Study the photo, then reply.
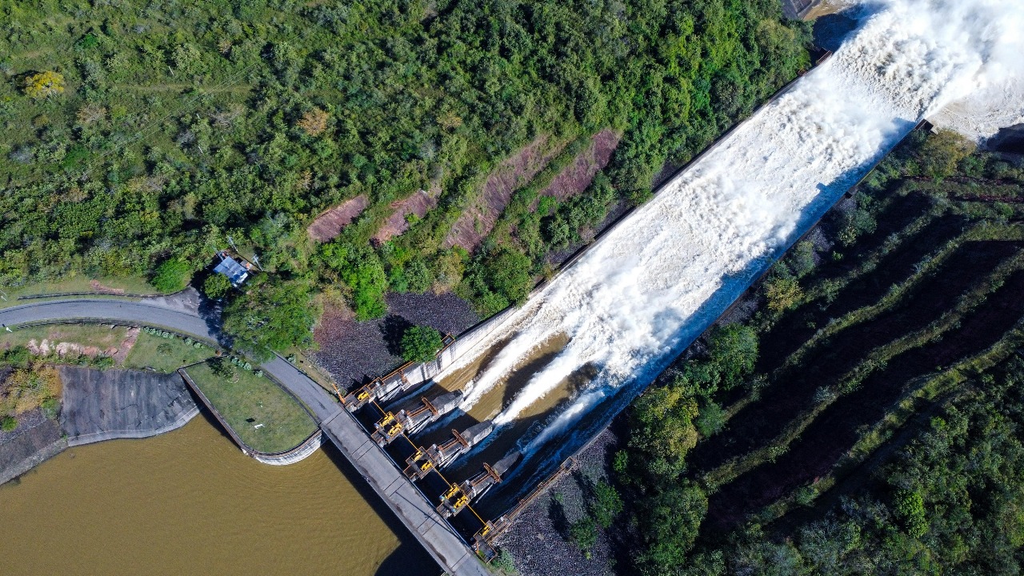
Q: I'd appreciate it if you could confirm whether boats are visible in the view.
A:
No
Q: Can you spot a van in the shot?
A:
No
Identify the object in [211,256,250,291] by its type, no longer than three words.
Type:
house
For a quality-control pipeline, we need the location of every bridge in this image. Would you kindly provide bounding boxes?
[321,405,502,576]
